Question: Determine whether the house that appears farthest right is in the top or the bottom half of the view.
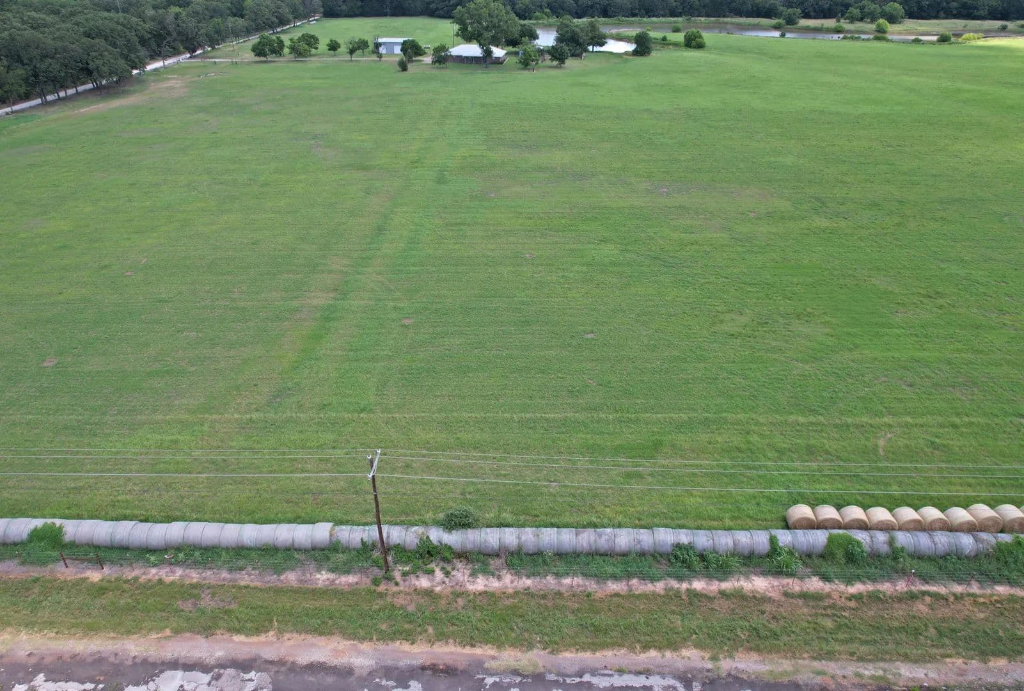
top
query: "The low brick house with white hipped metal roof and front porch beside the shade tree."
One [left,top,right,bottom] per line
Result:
[449,43,506,67]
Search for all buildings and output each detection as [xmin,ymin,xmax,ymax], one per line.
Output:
[377,39,412,54]
[449,43,506,67]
